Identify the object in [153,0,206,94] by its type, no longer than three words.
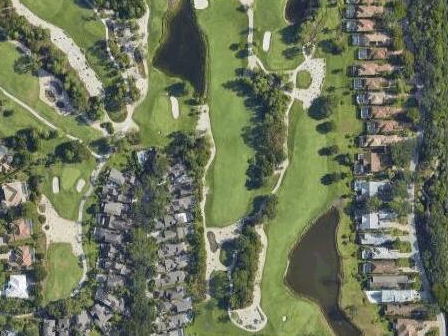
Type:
pond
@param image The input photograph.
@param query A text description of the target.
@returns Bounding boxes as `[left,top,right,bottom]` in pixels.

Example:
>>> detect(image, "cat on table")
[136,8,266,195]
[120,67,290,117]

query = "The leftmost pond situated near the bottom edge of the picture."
[284,206,362,336]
